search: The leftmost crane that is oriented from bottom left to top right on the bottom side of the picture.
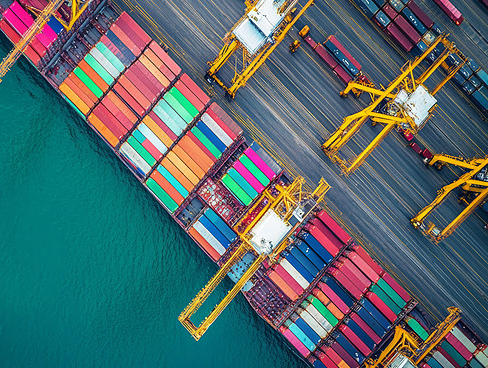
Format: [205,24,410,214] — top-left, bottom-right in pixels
[176,174,333,342]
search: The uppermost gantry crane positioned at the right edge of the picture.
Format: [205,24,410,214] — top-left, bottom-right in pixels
[322,30,474,175]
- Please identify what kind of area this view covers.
port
